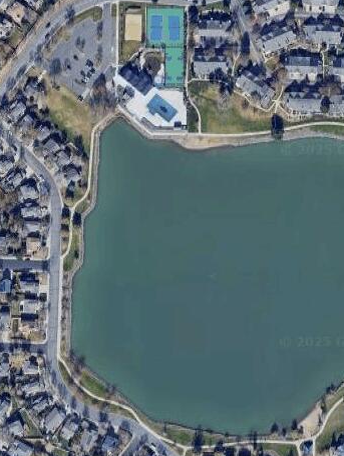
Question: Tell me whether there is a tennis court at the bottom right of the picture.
No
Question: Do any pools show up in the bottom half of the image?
No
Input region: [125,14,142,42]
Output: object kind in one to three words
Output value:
sports court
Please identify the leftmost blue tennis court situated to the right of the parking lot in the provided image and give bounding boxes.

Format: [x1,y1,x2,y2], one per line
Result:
[147,7,166,48]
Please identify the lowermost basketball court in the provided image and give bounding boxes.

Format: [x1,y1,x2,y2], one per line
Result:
[165,67,185,88]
